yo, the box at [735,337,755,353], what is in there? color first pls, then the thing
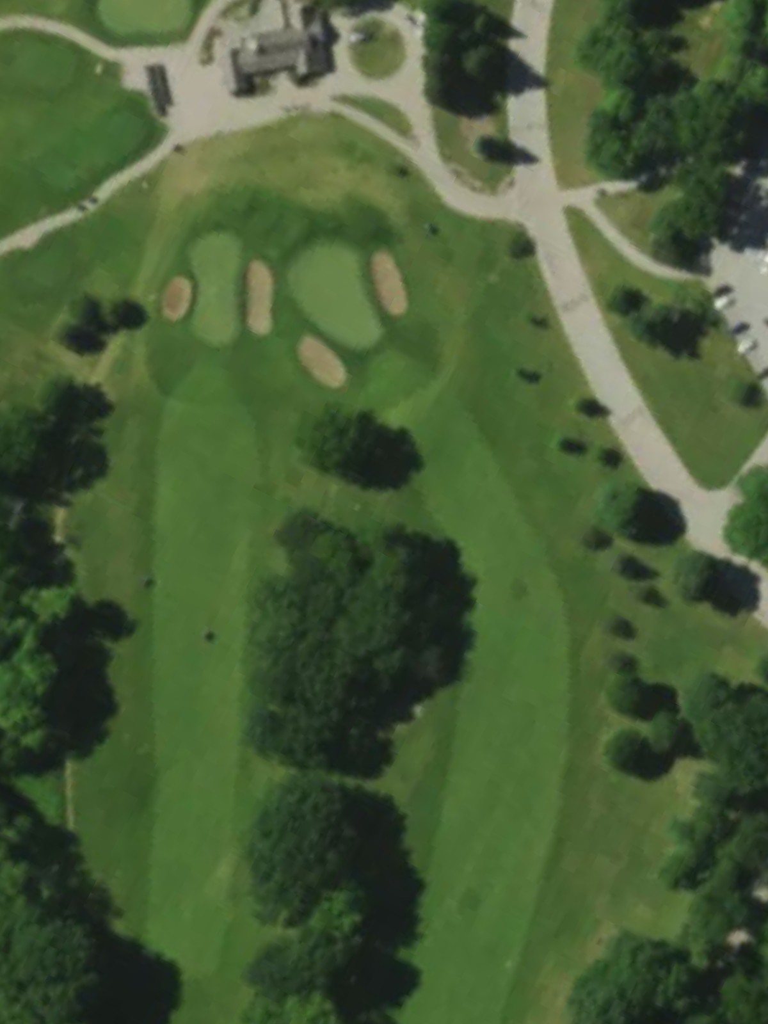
white car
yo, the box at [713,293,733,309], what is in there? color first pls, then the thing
white car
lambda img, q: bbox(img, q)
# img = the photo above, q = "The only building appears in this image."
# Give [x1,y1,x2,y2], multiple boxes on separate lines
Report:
[231,14,329,98]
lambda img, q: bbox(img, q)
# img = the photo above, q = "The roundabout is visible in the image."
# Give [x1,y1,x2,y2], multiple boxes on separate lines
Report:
[333,3,421,93]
